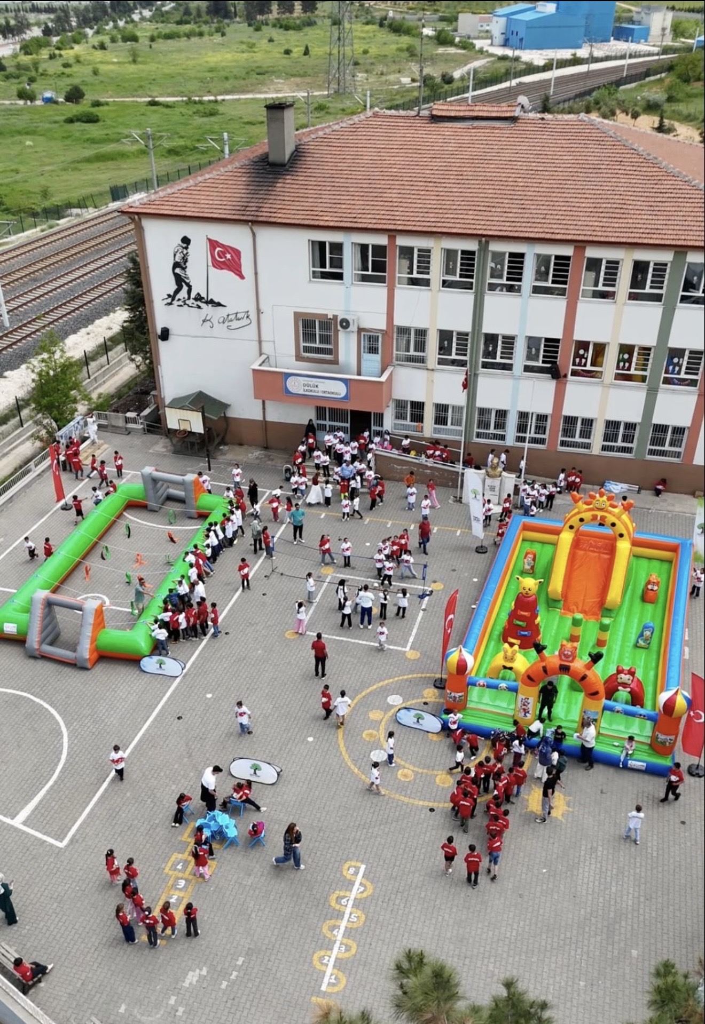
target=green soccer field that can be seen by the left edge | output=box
[0,476,236,666]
